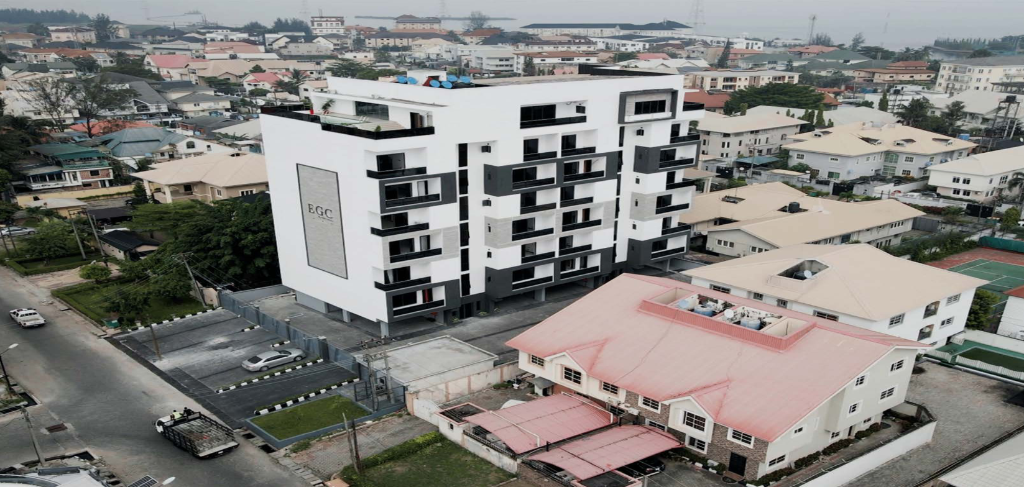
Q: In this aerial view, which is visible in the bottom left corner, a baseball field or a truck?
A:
truck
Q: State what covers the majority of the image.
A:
buildings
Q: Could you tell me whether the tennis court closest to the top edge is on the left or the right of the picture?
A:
right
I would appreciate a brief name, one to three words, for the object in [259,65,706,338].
building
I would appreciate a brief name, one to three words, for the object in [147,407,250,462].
truck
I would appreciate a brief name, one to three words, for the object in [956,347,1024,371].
sports court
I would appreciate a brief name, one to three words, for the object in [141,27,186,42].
house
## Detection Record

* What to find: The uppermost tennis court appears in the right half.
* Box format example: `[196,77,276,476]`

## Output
[954,259,1024,313]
